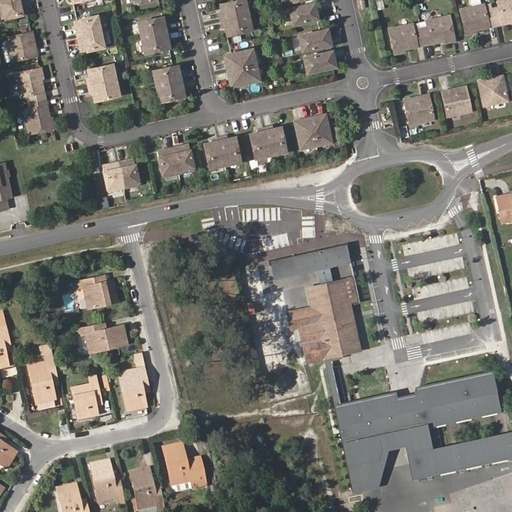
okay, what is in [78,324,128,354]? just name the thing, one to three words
house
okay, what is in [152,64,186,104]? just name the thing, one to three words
house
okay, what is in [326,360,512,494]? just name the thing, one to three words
building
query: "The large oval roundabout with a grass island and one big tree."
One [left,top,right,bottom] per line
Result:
[341,152,455,228]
